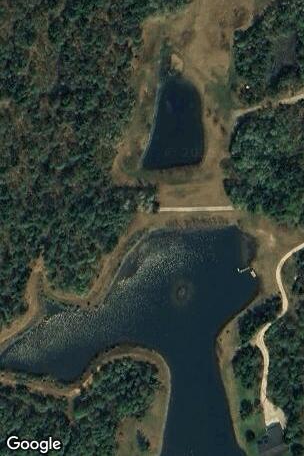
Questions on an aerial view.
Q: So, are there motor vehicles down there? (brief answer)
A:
No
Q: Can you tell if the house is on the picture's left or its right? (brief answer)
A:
right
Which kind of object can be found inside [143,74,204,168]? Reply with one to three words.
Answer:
pond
